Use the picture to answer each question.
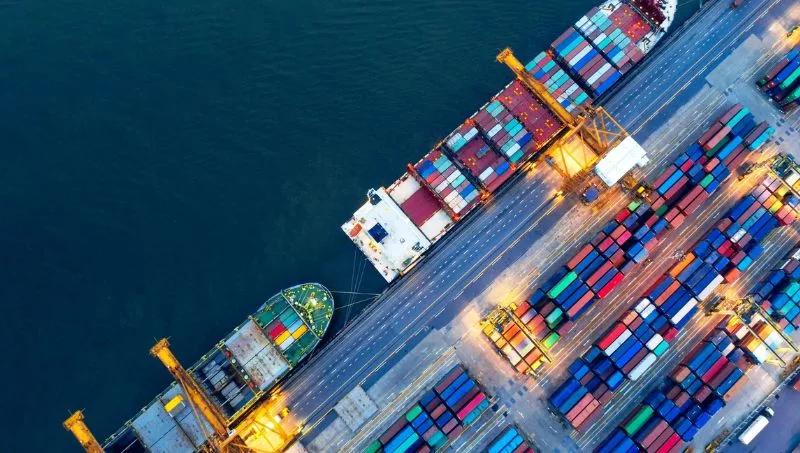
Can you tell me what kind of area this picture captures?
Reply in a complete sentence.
What you see here is a port.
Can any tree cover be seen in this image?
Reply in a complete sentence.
No, there is no tree cover in the image.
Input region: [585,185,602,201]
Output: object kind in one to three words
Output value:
vehicle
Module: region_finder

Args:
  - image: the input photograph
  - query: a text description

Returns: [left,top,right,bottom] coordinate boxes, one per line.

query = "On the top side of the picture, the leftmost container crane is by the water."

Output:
[492,41,654,207]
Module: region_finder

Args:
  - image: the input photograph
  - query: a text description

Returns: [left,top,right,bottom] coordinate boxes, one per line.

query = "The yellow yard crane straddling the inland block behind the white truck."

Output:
[706,298,800,369]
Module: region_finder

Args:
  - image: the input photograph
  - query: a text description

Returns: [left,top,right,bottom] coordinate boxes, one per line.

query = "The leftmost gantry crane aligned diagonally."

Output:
[52,416,97,453]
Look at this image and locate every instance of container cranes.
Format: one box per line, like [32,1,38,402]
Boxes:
[738,151,800,198]
[52,416,97,453]
[706,298,800,369]
[143,340,311,453]
[480,304,553,378]
[492,41,654,207]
